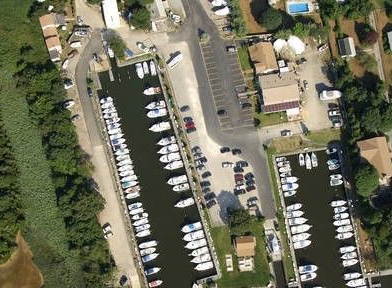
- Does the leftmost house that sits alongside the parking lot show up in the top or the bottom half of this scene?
top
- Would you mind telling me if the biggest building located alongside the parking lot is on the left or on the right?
right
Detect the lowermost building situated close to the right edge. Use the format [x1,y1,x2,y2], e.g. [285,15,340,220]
[358,137,392,178]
